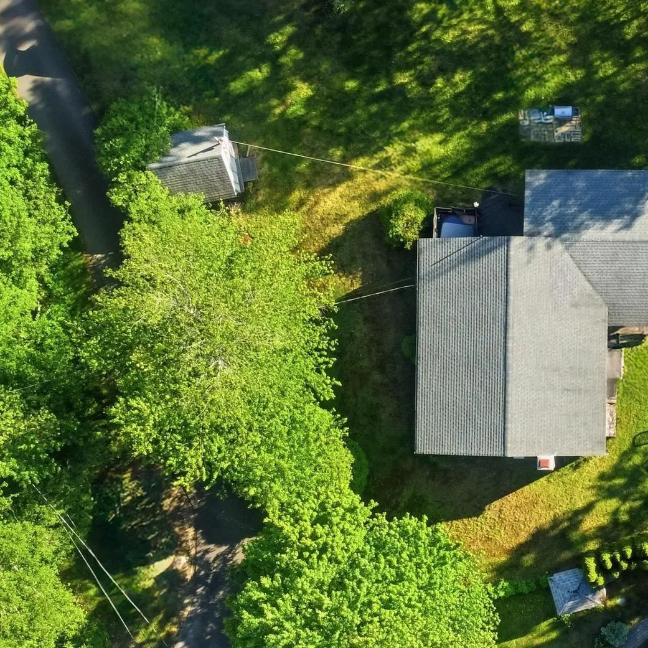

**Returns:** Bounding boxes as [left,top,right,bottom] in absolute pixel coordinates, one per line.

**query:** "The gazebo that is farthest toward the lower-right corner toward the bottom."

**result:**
[546,552,607,621]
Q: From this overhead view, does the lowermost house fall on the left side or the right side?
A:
right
